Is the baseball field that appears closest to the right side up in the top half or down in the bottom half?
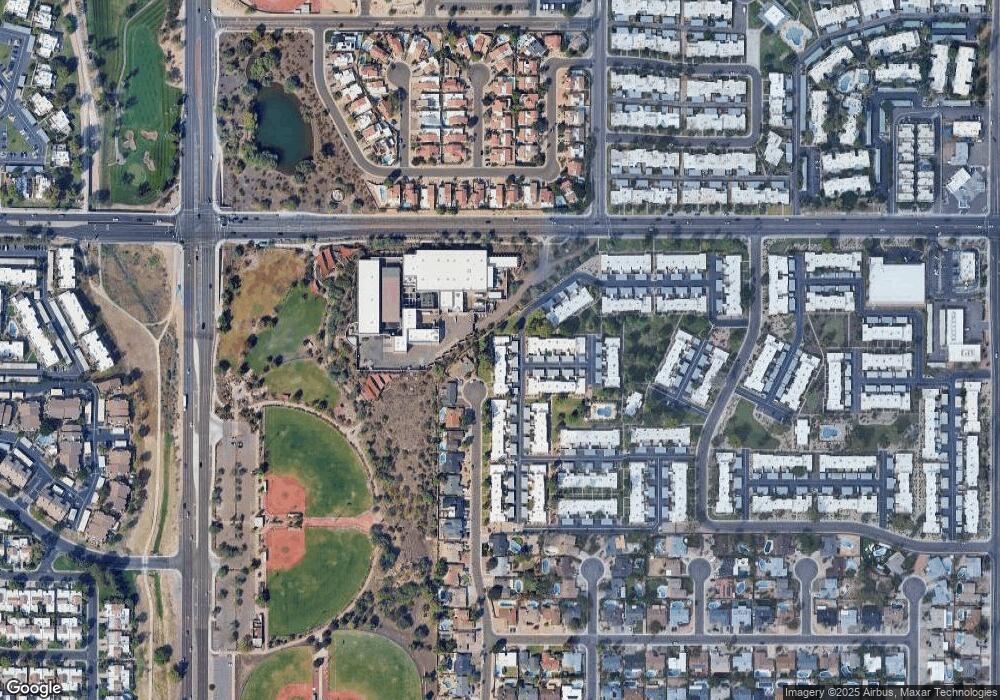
bottom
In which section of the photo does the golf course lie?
top left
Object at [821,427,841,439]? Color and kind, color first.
blue swimming pool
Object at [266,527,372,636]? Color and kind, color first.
green baseball field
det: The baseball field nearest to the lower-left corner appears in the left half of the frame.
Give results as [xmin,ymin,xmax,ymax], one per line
[241,645,313,700]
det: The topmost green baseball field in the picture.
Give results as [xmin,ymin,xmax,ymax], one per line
[265,407,373,517]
